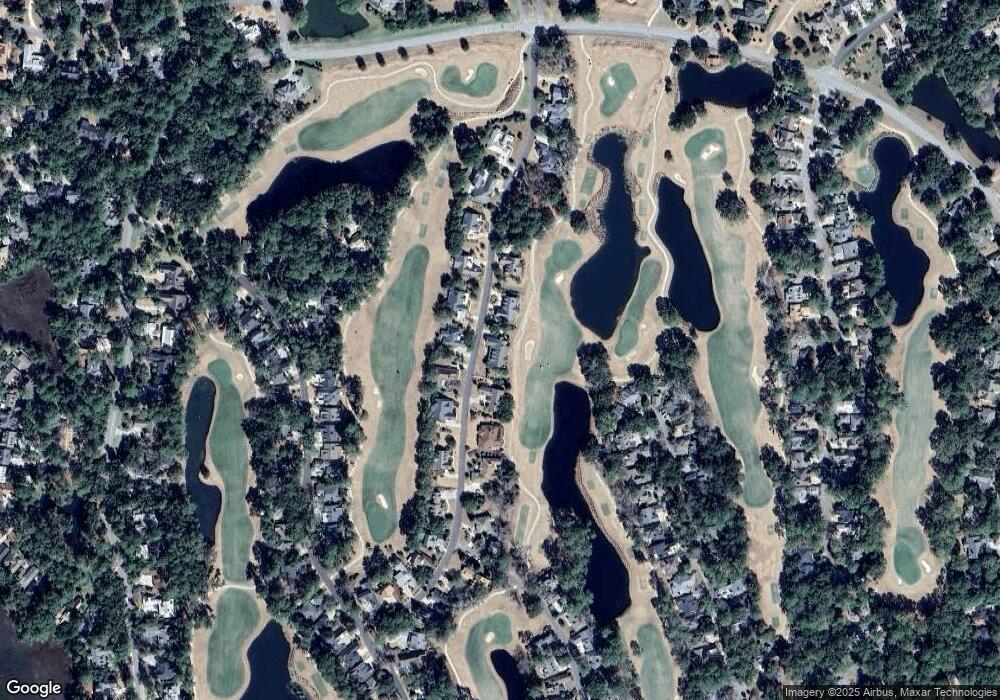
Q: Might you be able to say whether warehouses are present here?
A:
No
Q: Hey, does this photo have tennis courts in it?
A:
No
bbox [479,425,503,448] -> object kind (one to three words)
house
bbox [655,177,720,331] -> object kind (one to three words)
pond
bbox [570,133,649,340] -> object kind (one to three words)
pond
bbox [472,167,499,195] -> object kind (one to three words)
house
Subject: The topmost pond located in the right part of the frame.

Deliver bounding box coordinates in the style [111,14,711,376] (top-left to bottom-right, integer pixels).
[679,62,773,107]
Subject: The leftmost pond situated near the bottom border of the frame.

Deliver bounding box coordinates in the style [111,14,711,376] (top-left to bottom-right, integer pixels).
[238,619,304,700]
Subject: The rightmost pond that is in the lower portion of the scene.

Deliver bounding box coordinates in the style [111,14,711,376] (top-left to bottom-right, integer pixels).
[542,380,630,622]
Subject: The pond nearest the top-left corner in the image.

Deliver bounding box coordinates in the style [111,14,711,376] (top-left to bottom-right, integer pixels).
[300,0,368,37]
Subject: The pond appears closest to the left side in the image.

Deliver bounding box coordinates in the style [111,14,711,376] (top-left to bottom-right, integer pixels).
[186,376,222,548]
